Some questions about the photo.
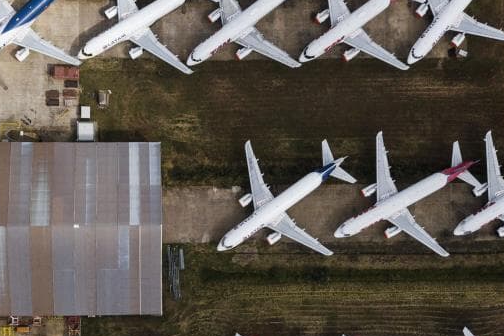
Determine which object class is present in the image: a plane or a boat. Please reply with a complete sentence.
Looking from above, you can make out a plane.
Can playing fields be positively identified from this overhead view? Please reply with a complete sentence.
No, there appears to be no playing field in this shot.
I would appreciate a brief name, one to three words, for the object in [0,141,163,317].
hangar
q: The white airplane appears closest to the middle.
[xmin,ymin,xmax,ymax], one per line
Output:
[217,138,359,256]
